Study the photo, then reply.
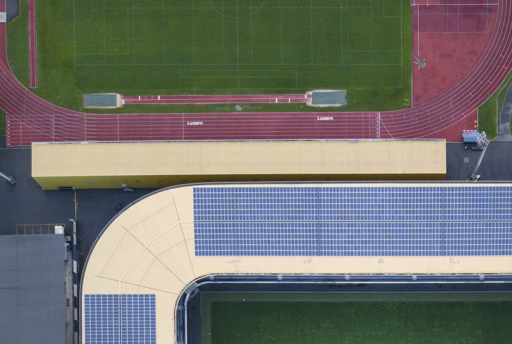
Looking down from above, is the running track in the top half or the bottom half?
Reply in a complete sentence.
The running track is in the top half of the image.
